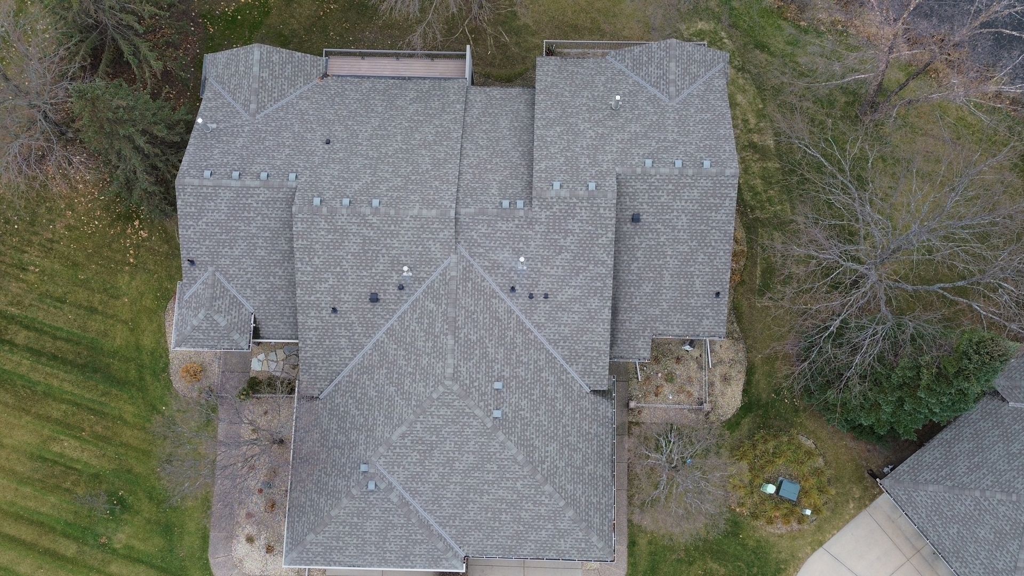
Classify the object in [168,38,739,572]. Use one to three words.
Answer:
house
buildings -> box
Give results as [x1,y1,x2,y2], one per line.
[871,344,1024,576]
[168,38,739,572]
